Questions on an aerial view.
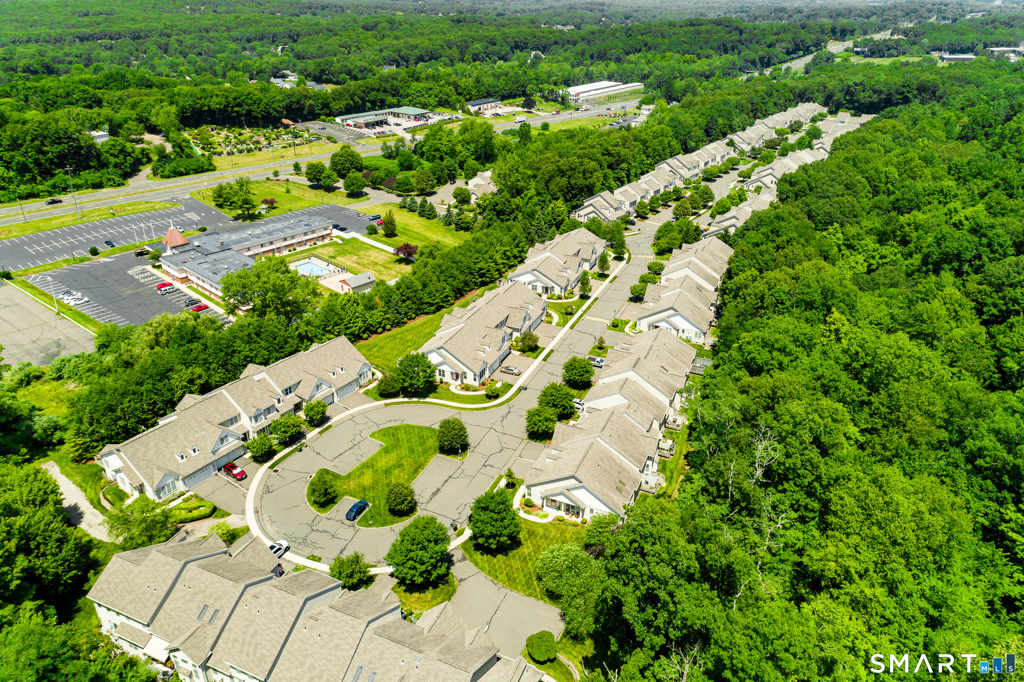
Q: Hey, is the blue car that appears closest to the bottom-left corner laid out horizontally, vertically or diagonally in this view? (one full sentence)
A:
I'd say the blue car that appears closest to the bottom-left corner is aligned diagonally in the picture.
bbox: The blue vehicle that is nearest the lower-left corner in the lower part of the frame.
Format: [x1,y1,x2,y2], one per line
[344,498,368,520]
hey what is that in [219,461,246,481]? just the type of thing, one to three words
car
